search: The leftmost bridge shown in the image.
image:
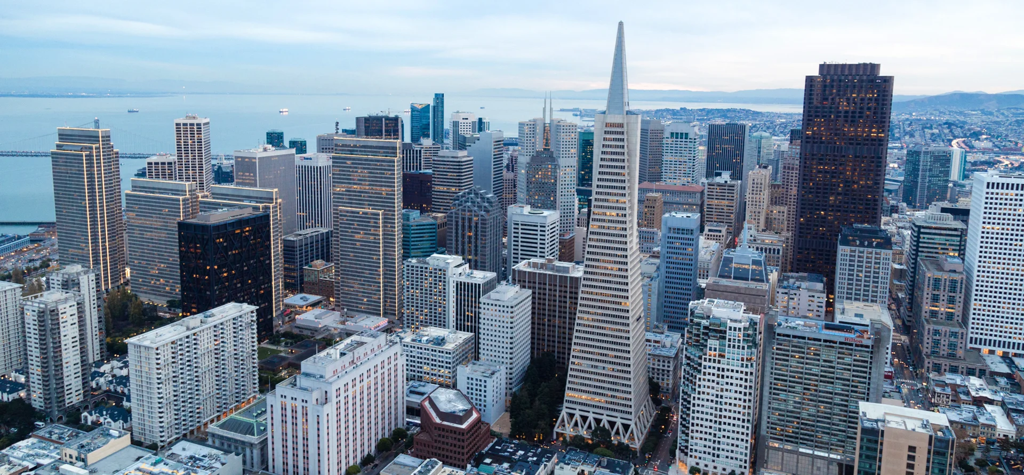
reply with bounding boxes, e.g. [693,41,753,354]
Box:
[0,117,247,162]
